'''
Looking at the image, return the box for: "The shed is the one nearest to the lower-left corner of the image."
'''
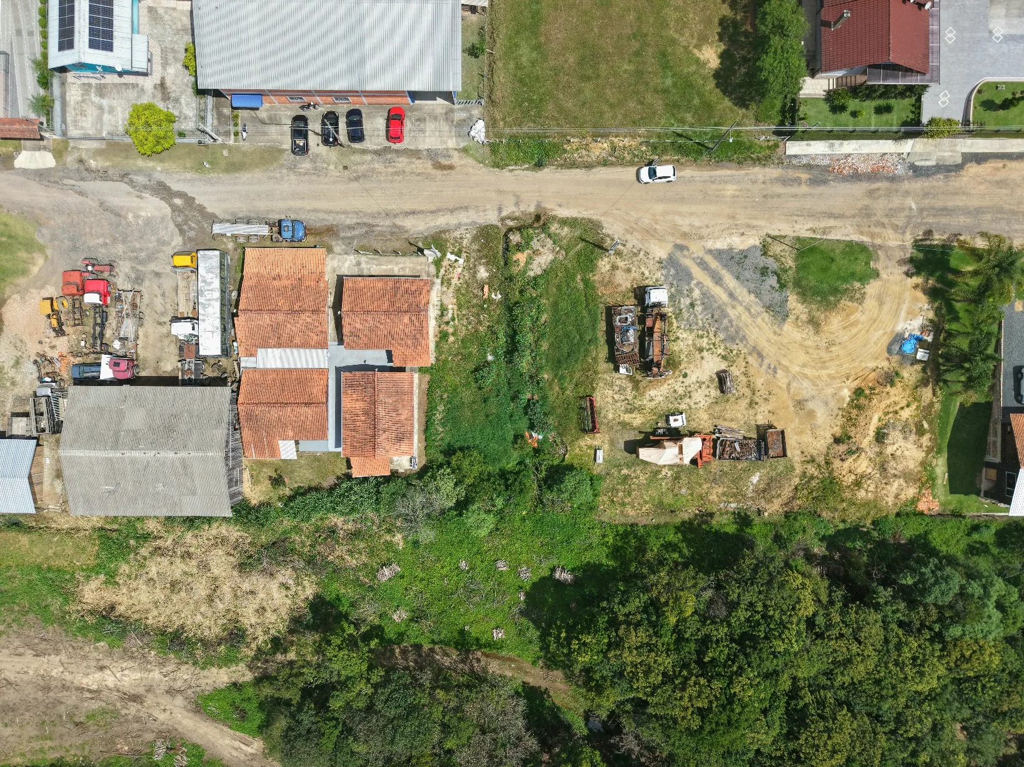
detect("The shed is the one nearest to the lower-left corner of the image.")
[0,439,55,513]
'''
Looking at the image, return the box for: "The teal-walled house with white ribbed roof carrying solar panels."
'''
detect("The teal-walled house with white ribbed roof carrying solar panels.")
[48,0,160,81]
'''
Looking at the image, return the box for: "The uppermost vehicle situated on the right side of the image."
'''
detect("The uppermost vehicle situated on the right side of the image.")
[640,162,677,182]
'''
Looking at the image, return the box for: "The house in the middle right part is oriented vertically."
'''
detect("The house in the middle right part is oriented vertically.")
[979,413,1024,516]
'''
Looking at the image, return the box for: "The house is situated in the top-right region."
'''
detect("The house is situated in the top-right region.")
[812,0,942,100]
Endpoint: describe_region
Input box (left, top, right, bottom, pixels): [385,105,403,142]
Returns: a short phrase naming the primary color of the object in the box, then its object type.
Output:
red car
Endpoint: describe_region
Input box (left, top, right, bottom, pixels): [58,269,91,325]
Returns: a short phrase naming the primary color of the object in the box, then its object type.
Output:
red truck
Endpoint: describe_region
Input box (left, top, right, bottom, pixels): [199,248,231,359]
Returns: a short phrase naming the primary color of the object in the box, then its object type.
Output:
white bus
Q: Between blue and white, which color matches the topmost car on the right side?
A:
white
